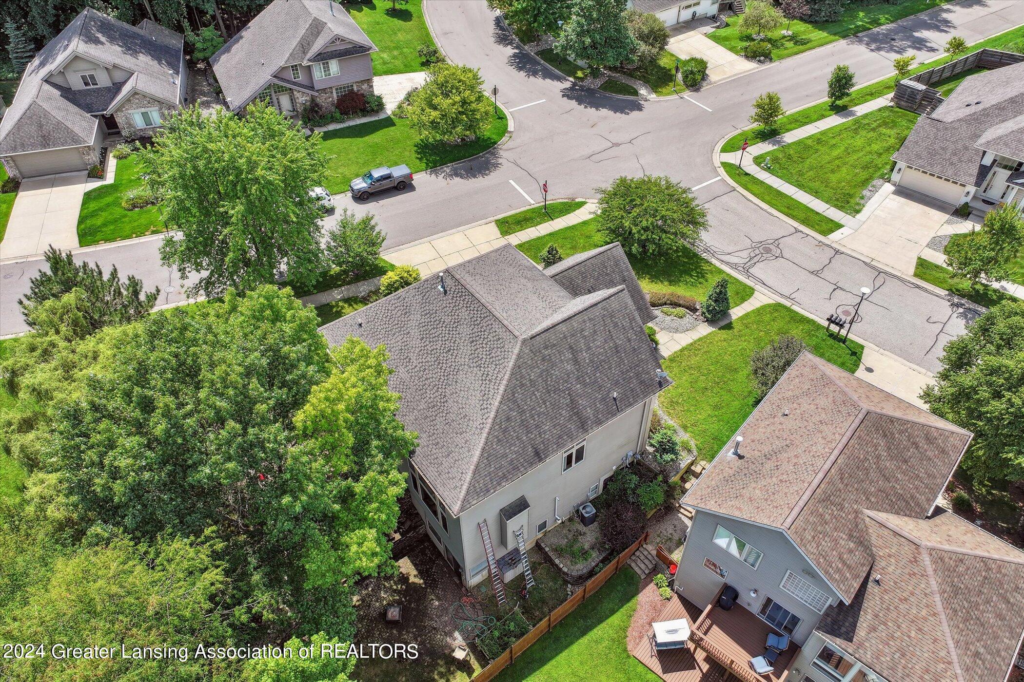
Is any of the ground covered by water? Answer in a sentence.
No, no water is visible.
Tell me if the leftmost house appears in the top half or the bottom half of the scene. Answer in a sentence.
It is in the top half that the leftmost house appears.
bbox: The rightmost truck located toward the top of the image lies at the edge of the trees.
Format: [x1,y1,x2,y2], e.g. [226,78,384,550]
[345,166,414,201]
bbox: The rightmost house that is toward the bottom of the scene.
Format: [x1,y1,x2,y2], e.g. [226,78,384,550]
[671,350,1024,682]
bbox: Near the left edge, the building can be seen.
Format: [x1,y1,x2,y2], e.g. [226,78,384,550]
[0,7,193,180]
